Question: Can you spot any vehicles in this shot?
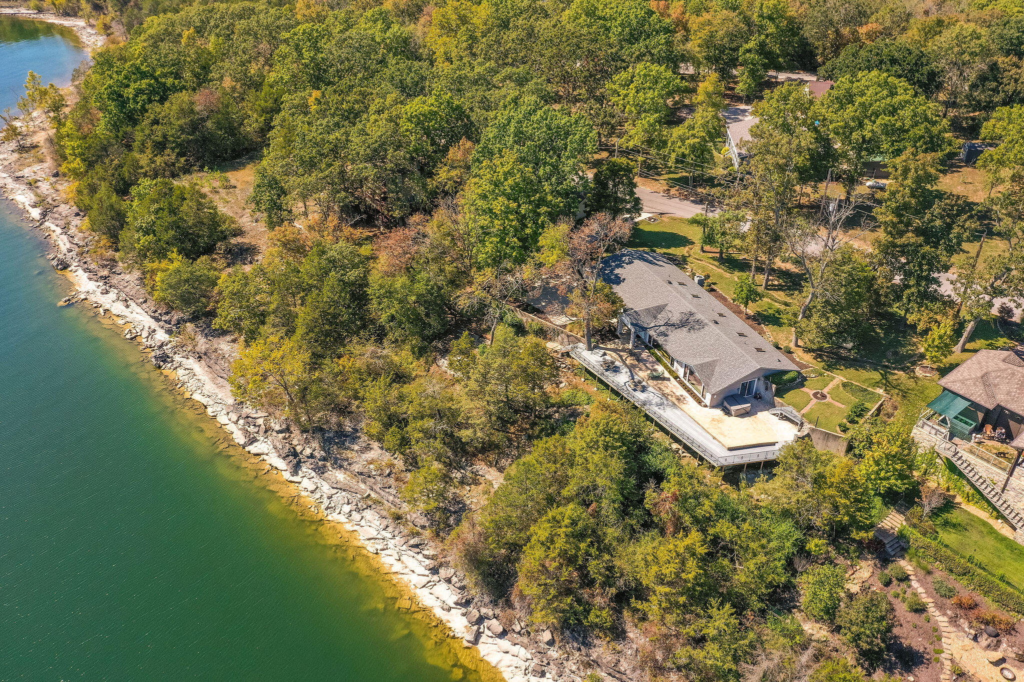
No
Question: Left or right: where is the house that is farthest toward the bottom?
right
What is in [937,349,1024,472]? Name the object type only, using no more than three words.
house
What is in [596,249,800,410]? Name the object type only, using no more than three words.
house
